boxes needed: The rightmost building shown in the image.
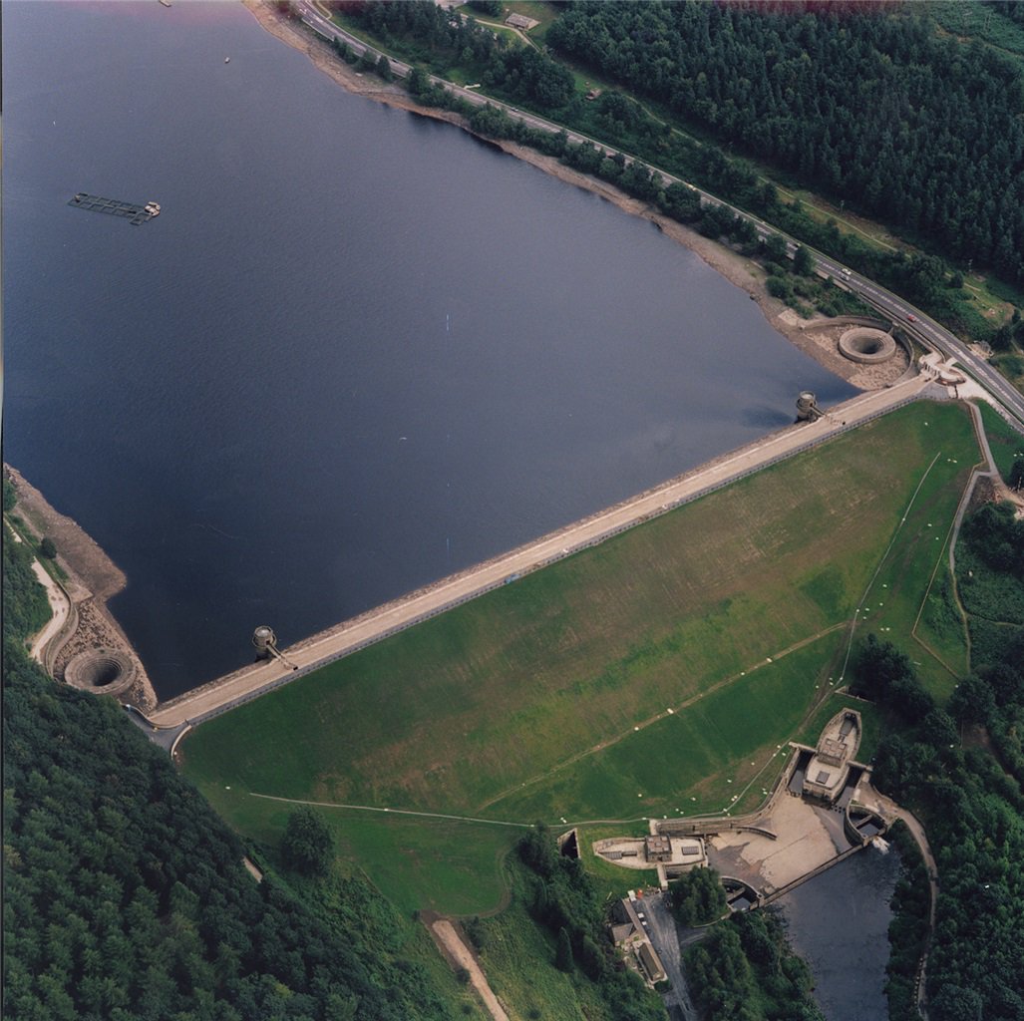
[918,351,941,373]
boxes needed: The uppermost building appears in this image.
[502,15,533,30]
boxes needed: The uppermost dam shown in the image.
[133,373,922,724]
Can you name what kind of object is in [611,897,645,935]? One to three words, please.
house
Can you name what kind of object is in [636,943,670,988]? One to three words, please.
house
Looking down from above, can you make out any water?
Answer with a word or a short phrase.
Yes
